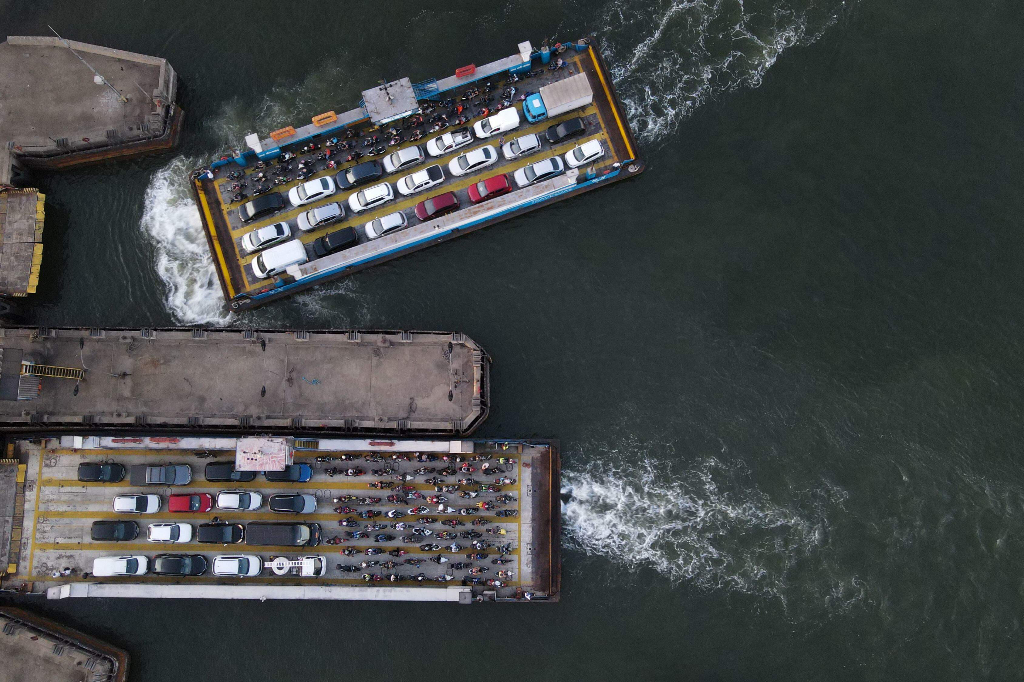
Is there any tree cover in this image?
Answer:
No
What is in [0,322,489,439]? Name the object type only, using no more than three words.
pier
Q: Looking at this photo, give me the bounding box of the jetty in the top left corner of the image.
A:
[0,31,191,193]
